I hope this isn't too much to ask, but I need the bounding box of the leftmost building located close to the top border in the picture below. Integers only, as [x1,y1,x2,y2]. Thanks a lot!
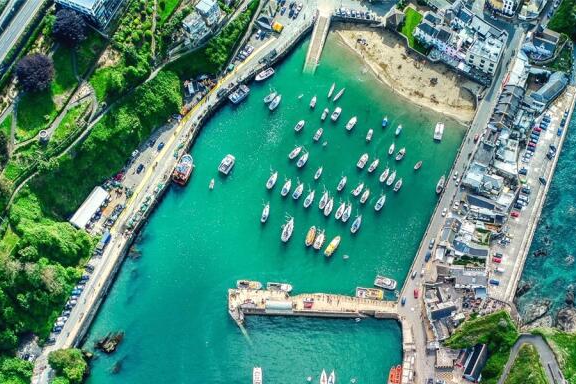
[56,0,122,34]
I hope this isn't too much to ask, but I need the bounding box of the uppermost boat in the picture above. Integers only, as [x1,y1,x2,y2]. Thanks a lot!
[257,68,277,83]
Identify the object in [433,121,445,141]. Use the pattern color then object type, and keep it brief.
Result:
white boat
